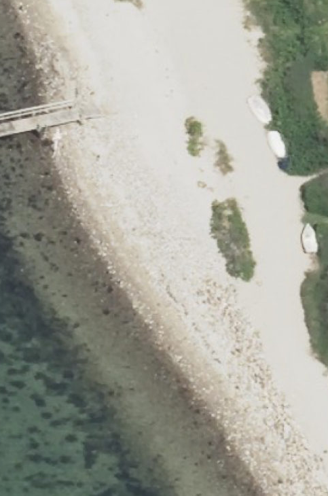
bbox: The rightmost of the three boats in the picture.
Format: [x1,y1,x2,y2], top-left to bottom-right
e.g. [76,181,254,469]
[301,220,317,254]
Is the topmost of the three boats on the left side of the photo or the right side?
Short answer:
right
